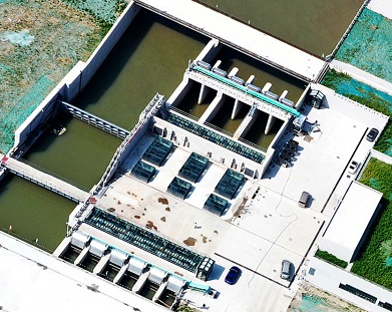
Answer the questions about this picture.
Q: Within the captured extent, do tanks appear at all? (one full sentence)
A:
No, the photo shows no tank.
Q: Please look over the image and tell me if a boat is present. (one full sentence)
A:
No, the picture doesn't show any boat.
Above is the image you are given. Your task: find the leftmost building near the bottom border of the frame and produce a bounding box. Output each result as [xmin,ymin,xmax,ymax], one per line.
[66,222,196,302]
